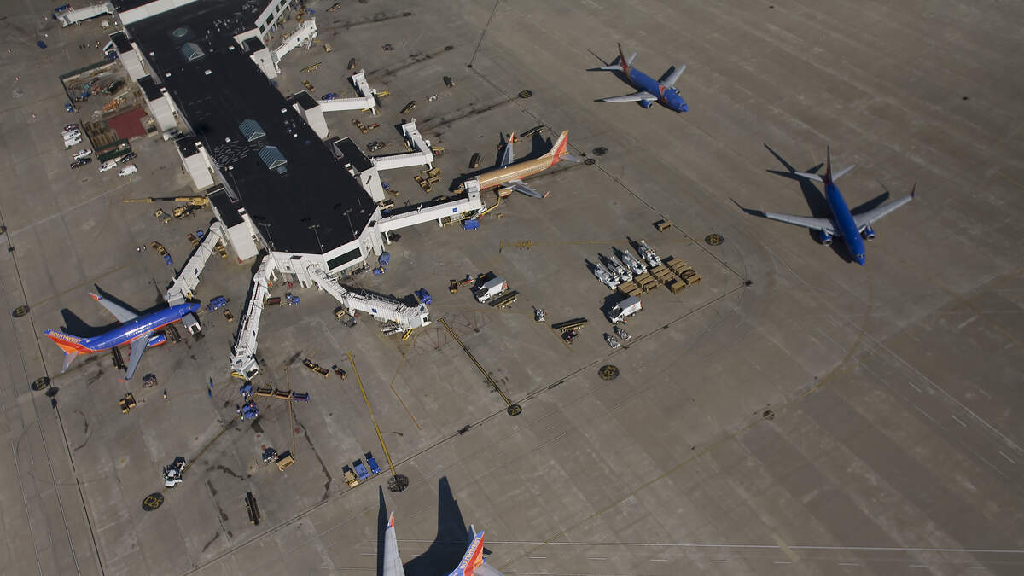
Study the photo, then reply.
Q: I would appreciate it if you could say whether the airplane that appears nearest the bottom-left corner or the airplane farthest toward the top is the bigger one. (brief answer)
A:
the airplane that appears nearest the bottom-left corner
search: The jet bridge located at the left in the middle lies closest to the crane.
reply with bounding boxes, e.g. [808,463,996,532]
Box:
[175,221,228,303]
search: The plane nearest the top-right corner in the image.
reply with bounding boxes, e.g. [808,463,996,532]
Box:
[760,147,916,264]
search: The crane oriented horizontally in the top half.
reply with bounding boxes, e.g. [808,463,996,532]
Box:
[124,194,212,213]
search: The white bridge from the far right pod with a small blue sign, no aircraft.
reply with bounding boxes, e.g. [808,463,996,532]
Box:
[269,23,319,74]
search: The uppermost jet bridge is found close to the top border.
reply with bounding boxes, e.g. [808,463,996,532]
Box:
[56,7,118,34]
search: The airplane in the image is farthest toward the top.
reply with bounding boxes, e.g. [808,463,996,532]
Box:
[601,43,688,114]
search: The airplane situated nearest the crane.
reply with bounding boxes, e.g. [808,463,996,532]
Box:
[46,291,200,381]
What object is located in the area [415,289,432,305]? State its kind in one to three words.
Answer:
work vehicle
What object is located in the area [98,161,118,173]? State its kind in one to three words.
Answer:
vehicle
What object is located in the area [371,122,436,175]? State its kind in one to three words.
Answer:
jet bridge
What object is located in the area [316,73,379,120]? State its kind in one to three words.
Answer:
jet bridge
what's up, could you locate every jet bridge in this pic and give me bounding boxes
[237,253,277,377]
[175,221,228,303]
[377,181,484,244]
[56,7,118,34]
[269,23,319,74]
[303,263,429,337]
[371,122,436,175]
[316,73,379,120]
